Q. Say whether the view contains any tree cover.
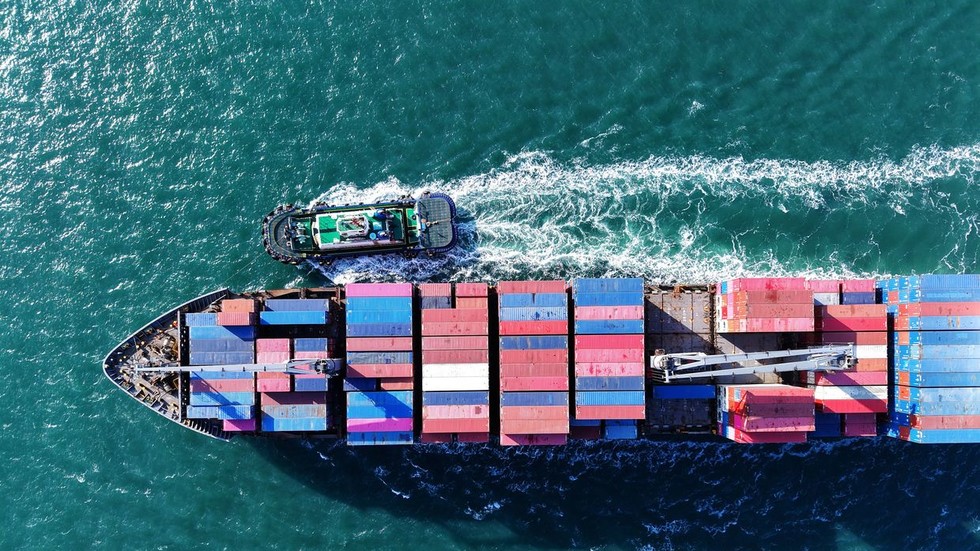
No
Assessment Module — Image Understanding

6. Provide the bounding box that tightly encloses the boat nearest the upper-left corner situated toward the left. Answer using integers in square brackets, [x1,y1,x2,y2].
[260,192,457,263]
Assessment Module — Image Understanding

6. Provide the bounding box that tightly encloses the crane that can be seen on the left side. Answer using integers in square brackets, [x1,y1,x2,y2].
[131,349,346,377]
